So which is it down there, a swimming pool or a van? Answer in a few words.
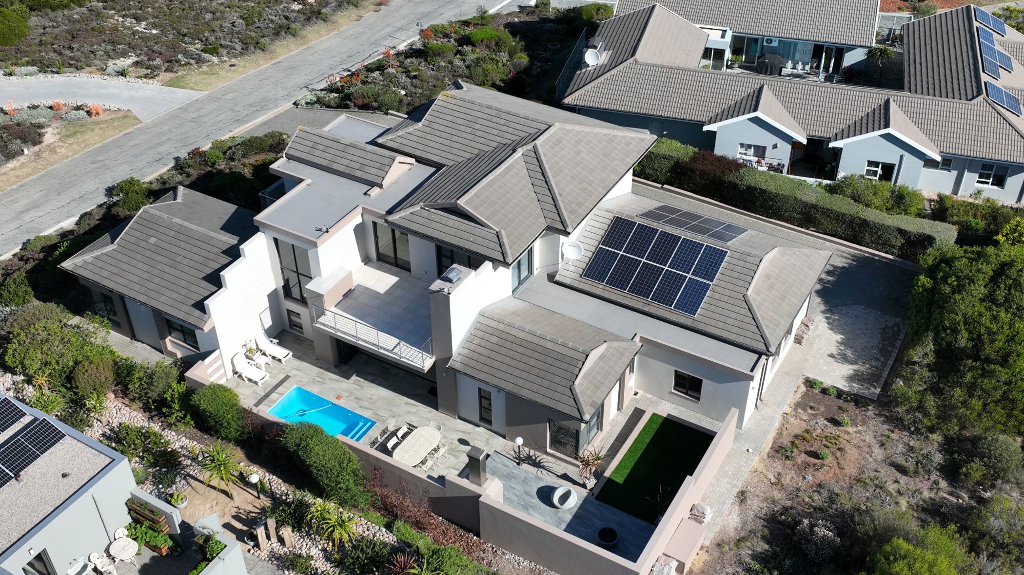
swimming pool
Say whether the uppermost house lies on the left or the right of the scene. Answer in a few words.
right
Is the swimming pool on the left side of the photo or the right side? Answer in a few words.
left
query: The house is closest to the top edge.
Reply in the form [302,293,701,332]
[562,0,1024,202]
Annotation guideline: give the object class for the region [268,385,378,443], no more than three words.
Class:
swimming pool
